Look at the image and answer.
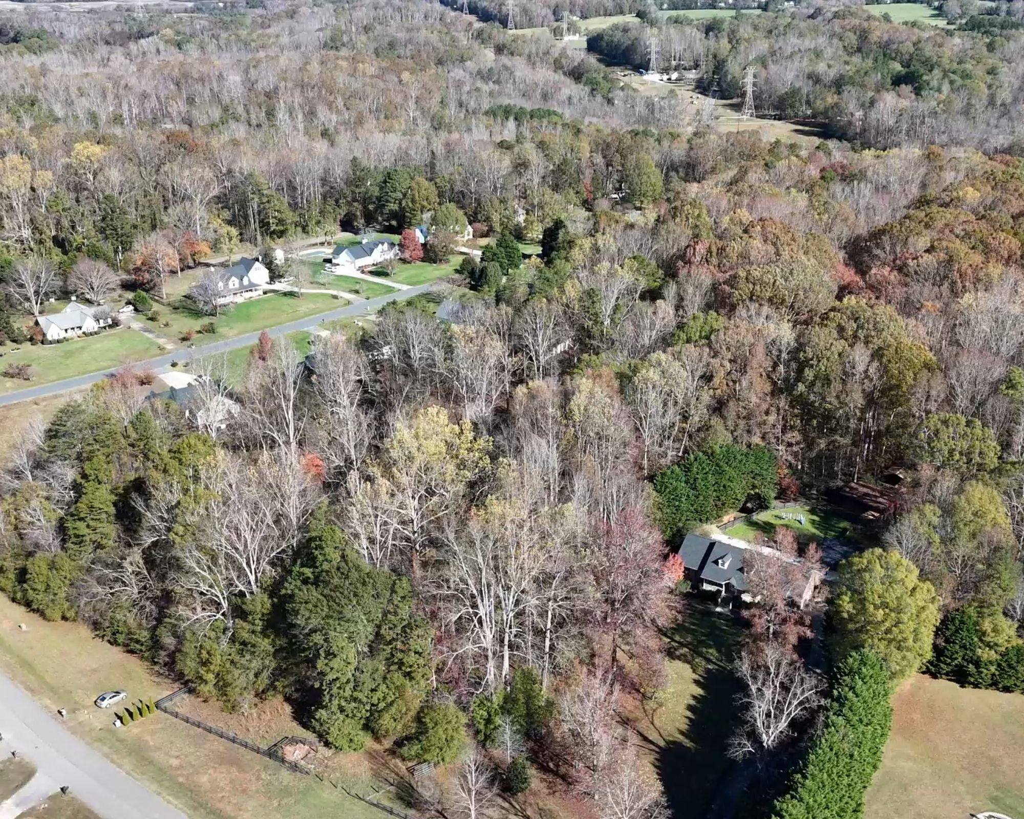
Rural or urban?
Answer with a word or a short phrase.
rural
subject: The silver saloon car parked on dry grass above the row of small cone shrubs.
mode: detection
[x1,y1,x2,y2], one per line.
[93,691,128,711]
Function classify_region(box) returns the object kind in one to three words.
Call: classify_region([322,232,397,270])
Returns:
house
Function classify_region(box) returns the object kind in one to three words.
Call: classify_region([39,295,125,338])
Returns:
house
